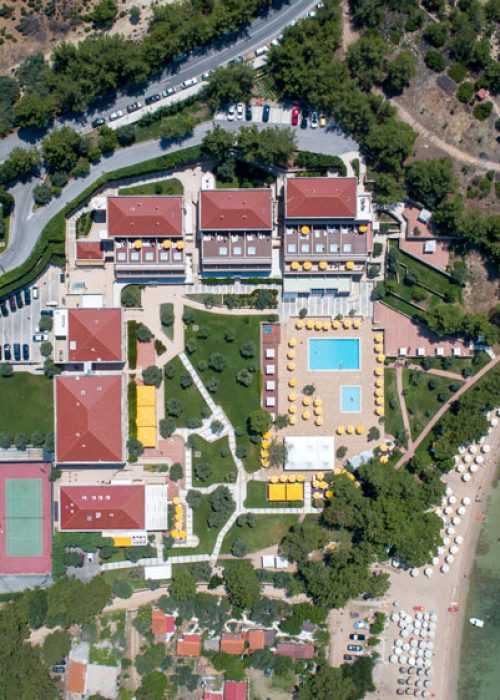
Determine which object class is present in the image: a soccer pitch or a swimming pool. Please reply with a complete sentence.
Visible in the photo is a swimming pool.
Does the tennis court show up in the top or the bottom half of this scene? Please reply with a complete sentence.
You can find the tennis court in the bottom half.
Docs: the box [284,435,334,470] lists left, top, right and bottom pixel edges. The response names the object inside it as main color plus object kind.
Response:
white tent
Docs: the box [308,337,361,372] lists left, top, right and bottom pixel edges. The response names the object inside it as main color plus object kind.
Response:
blue swimming pool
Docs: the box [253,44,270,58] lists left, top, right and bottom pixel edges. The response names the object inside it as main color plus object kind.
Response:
white vehicle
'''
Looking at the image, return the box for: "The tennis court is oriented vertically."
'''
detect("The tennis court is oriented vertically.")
[0,463,52,575]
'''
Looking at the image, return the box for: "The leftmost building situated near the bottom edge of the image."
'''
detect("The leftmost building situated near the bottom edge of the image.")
[66,636,90,694]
